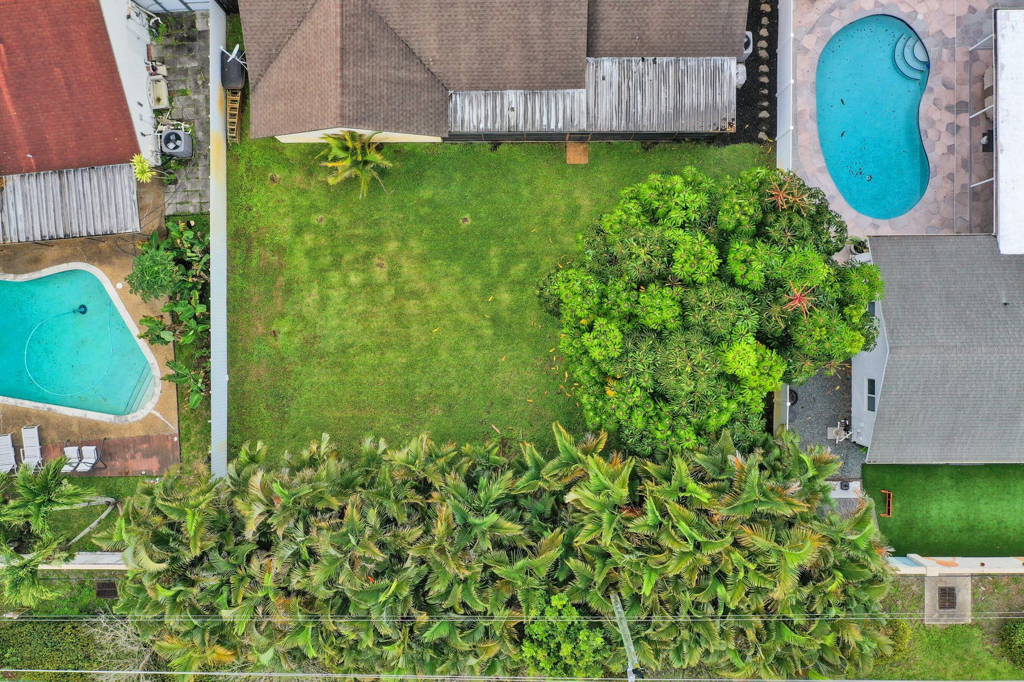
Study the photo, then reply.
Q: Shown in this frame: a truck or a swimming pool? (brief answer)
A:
swimming pool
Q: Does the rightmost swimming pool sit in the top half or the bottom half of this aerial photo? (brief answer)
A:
top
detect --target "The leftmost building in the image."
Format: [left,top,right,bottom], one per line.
[0,0,165,254]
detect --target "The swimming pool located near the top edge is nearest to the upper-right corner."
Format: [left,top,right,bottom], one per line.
[816,14,930,220]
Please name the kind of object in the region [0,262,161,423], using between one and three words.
swimming pool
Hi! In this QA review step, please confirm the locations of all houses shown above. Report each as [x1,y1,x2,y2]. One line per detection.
[0,0,165,254]
[852,233,1024,466]
[238,0,751,143]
